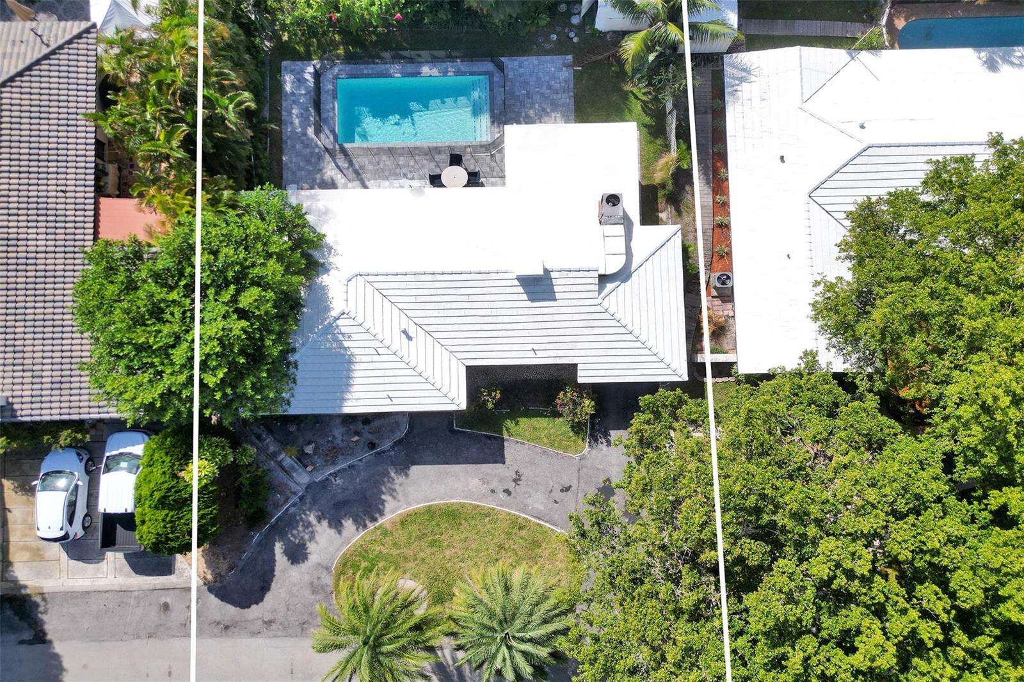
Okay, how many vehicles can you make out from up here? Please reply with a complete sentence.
The photo contains 2 vehicles.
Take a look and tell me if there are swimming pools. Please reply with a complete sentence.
Yes, a swimming pool is visible in the scene.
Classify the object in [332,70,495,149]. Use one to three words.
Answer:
swimming pool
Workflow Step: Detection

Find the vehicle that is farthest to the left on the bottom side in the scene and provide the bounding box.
[36,448,94,542]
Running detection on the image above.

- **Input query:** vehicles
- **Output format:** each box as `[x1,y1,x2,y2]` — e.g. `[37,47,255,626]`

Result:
[94,430,150,554]
[36,448,94,542]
